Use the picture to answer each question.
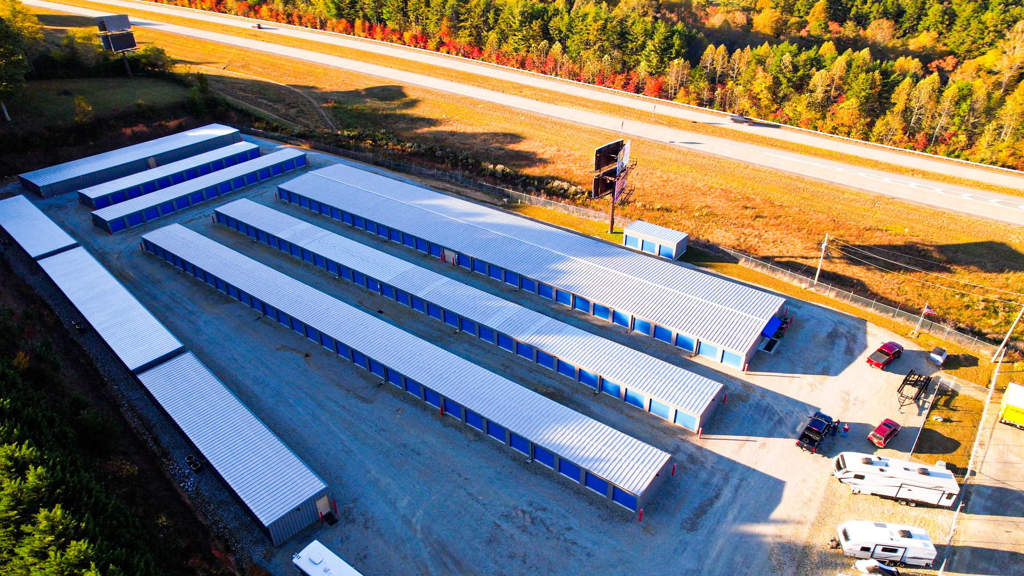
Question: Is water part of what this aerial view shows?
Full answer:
No, water can't be seen anywhere here.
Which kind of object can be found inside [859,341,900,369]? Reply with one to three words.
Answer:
truck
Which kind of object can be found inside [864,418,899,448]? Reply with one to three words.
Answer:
car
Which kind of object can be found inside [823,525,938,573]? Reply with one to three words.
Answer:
vehicle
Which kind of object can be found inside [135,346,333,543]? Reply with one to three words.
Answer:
building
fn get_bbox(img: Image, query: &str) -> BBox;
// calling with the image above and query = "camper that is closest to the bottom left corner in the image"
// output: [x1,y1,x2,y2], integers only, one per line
[292,539,358,576]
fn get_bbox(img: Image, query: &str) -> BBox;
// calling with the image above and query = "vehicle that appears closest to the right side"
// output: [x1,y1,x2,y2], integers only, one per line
[996,383,1024,430]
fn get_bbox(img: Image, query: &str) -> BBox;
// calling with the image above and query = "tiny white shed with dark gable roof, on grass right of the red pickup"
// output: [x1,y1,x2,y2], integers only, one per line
[924,345,948,366]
